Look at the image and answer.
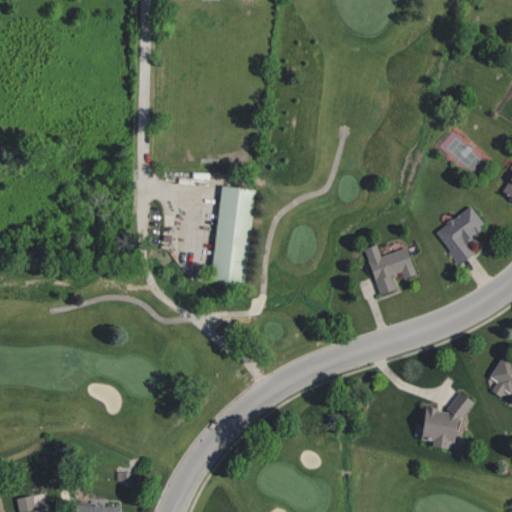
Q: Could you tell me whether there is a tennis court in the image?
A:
Yes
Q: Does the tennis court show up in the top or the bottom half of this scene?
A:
top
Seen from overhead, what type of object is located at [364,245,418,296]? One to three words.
house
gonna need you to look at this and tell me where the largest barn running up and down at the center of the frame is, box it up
[212,186,256,282]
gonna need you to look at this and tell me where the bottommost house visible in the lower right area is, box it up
[422,393,474,450]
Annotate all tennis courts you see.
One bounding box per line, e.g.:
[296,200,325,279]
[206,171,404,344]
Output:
[441,132,484,170]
